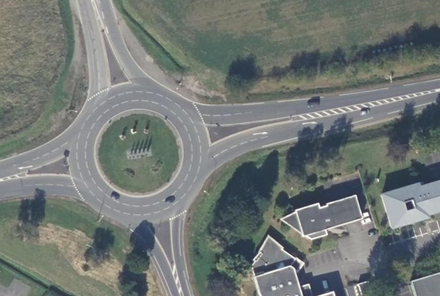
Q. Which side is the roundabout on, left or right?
left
